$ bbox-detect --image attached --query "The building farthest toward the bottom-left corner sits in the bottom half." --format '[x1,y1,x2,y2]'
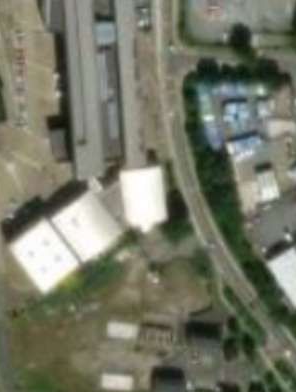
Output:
[102,374,133,388]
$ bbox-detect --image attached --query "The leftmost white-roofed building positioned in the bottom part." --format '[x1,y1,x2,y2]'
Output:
[9,216,81,292]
